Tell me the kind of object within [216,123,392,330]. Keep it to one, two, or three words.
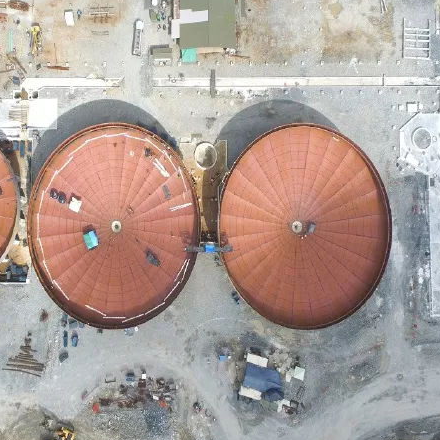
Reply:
storage tank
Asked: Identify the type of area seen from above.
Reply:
industrial area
